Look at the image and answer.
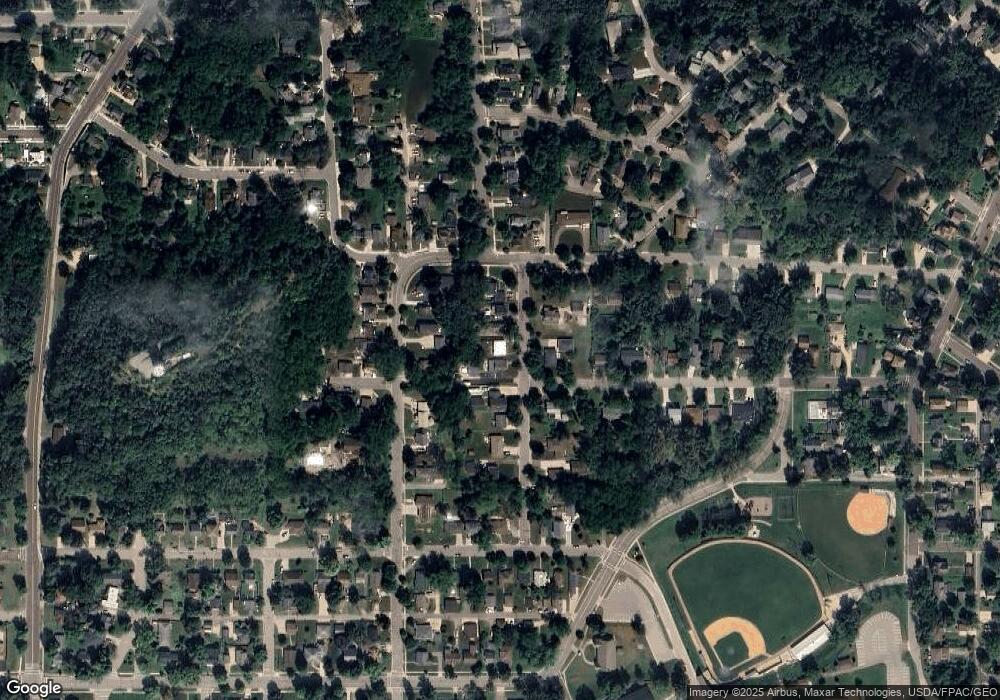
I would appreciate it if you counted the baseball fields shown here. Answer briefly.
2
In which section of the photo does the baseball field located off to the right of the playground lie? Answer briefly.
bottom right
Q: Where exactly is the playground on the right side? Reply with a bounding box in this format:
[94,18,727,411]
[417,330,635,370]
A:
[750,497,772,516]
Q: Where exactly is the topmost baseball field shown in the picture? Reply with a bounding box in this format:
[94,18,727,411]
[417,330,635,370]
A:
[800,486,902,584]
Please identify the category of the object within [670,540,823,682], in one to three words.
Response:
baseball field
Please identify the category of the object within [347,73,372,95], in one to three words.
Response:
house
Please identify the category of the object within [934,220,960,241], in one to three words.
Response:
house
